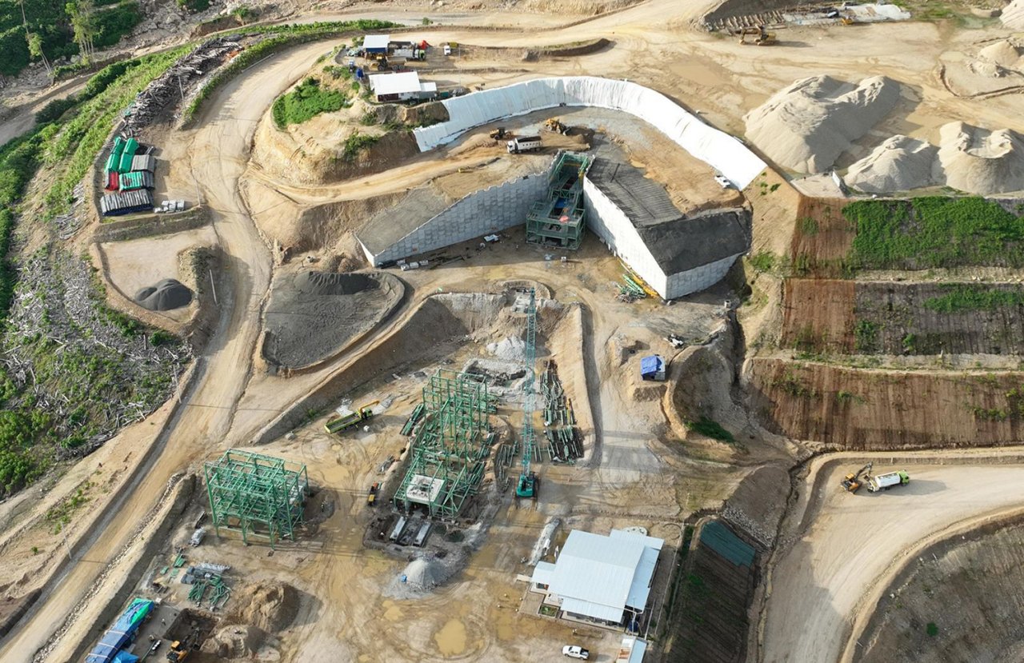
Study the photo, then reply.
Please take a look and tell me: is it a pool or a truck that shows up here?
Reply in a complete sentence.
This aerial view contains a truck.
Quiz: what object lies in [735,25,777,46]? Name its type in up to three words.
work vehicle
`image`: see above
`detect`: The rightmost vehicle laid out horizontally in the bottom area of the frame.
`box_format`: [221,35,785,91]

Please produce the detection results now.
[867,468,913,492]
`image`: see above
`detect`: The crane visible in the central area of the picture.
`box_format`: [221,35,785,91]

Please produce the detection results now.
[514,284,543,501]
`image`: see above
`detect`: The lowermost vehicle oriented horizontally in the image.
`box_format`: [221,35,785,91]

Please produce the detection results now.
[561,643,590,659]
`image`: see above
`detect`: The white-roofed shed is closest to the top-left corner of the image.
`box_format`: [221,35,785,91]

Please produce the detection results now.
[362,34,389,63]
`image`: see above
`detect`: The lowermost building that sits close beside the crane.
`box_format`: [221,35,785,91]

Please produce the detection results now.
[528,529,664,632]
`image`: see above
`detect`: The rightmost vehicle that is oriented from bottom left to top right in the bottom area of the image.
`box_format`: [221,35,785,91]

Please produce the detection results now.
[843,447,875,491]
